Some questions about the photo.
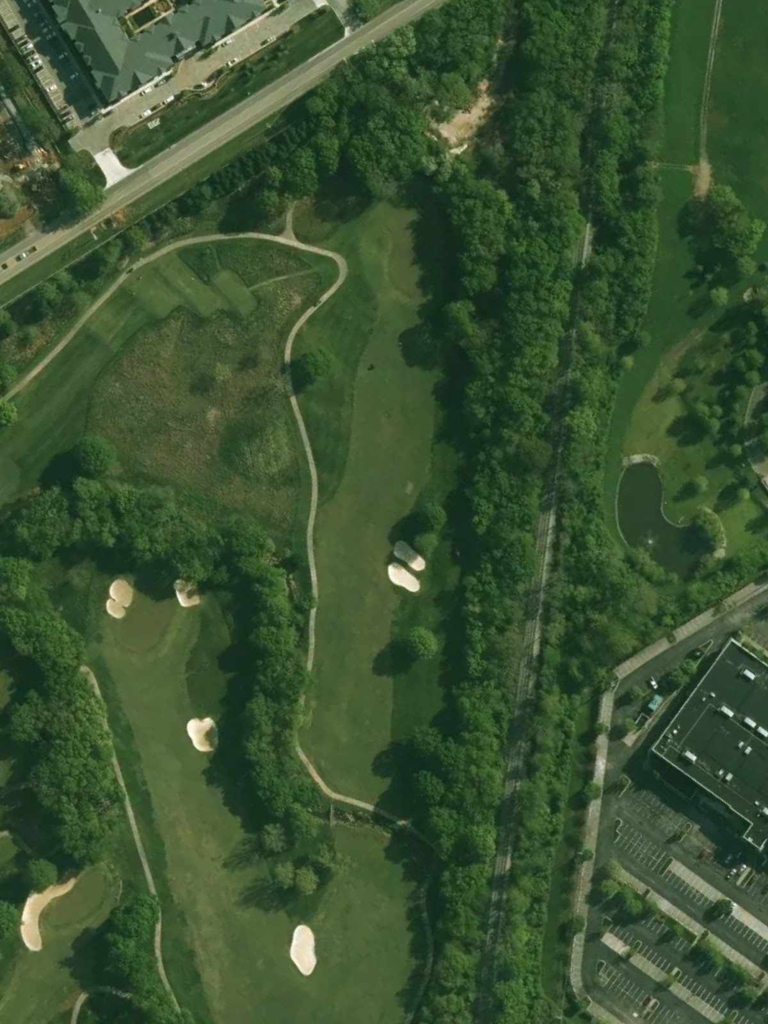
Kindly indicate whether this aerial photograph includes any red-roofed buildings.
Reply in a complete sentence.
No, I can see no red-roofed building in this picture.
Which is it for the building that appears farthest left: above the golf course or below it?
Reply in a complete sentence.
The building that appears farthest left is above the golf course.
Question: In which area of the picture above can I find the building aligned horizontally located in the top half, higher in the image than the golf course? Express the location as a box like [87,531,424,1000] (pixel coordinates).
[48,0,275,100]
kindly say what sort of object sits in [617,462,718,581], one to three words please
pond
